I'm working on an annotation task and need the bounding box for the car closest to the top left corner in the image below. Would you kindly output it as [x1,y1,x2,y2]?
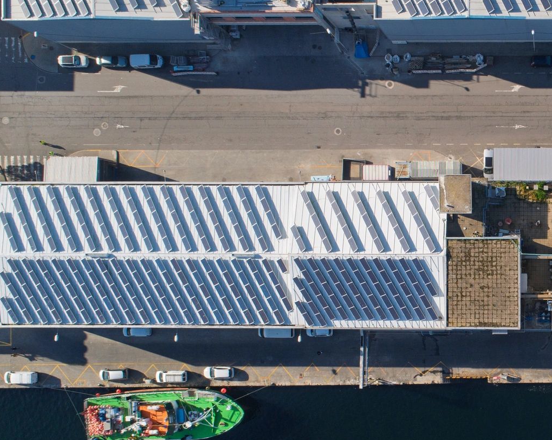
[61,54,93,70]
